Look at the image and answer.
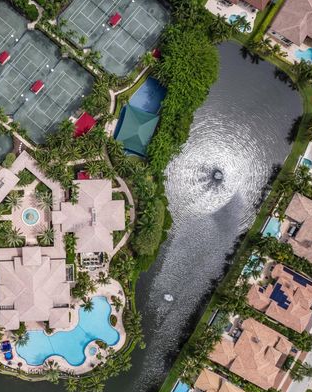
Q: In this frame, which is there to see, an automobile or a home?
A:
home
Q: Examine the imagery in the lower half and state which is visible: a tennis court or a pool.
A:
pool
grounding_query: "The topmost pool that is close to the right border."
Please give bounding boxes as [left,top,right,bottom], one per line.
[296,48,312,62]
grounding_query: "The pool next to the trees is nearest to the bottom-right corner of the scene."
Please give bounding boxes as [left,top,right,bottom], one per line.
[208,310,232,332]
